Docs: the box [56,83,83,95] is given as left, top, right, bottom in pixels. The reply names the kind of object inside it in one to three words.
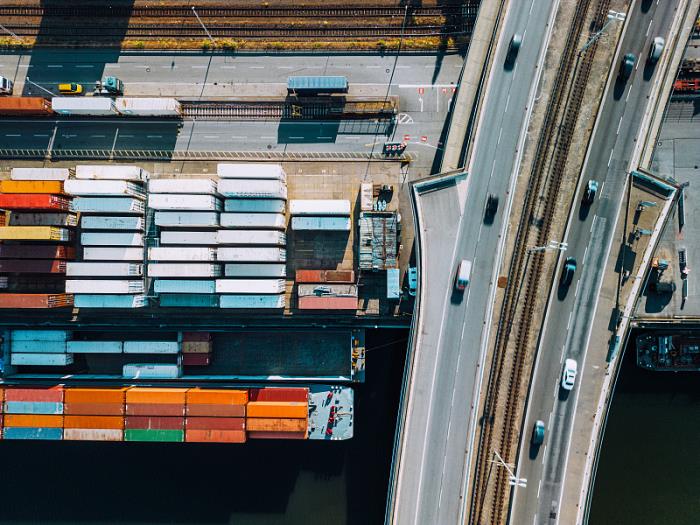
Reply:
vehicle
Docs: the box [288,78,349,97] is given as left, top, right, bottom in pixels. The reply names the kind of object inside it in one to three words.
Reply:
trailer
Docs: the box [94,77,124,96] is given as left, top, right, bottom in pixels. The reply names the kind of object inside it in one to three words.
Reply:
vehicle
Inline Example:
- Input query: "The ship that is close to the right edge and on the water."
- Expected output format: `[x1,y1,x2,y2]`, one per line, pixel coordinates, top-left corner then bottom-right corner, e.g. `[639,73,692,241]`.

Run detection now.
[632,333,700,371]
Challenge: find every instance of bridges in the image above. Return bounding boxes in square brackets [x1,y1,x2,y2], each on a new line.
[383,0,694,525]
